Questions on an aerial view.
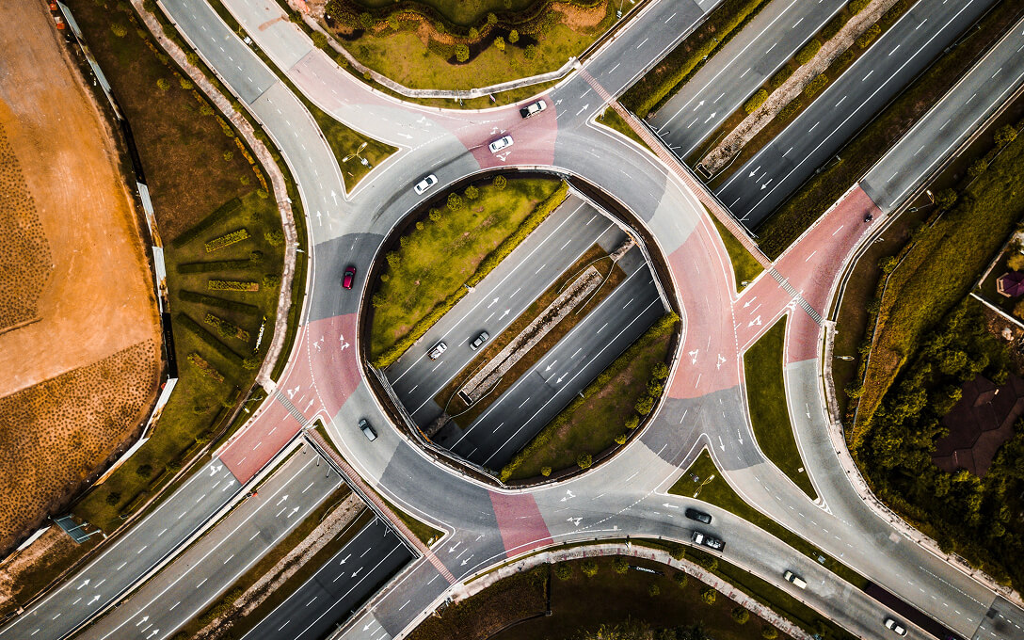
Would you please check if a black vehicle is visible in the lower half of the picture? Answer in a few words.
Yes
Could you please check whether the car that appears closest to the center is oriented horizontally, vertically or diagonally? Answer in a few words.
diagonally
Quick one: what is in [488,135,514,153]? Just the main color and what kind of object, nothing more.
white car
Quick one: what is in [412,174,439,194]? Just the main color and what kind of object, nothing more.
white car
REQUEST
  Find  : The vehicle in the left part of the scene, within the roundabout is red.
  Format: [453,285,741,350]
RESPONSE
[343,265,356,289]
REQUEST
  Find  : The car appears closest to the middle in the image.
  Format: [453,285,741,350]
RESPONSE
[468,329,491,351]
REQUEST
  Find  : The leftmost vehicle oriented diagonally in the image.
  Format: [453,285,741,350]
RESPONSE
[358,417,377,441]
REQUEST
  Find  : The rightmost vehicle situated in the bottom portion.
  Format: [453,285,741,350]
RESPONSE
[881,616,908,636]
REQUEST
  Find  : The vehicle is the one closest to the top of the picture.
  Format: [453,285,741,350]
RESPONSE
[518,100,548,119]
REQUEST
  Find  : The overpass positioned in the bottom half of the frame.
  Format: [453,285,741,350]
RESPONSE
[300,361,499,559]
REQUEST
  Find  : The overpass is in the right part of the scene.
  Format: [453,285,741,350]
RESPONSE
[561,97,776,317]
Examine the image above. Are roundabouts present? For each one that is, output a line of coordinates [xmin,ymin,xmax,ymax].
[220,79,785,584]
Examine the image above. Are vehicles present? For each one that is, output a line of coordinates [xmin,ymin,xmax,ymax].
[358,417,377,441]
[343,265,356,289]
[881,616,908,636]
[684,507,712,523]
[488,135,514,153]
[782,570,808,589]
[412,174,439,194]
[468,329,491,351]
[691,532,726,552]
[518,100,548,119]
